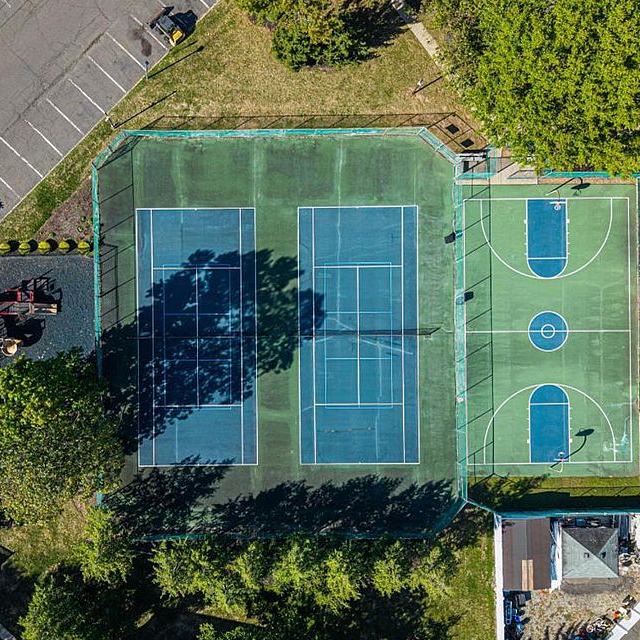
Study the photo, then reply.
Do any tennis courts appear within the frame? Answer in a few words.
Yes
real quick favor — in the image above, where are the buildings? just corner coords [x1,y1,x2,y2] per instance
[552,524,620,588]
[495,512,549,592]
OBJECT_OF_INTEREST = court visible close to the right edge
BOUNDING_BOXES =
[457,182,639,478]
